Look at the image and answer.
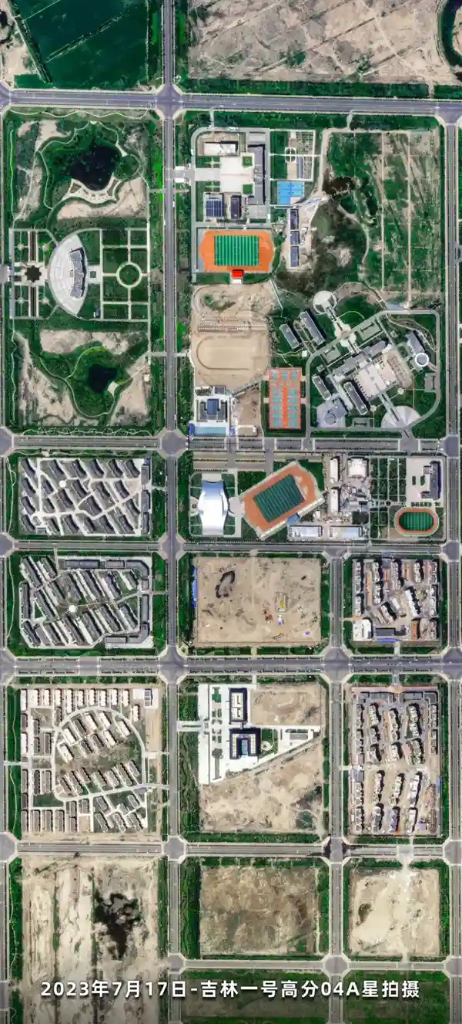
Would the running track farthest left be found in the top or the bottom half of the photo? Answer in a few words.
top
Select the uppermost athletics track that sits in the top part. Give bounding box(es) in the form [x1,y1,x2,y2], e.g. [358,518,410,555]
[197,229,277,272]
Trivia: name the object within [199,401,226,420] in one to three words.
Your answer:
building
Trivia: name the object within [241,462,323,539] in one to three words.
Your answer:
running track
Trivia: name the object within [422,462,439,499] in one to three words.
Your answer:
building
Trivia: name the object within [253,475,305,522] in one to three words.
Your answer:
sports field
